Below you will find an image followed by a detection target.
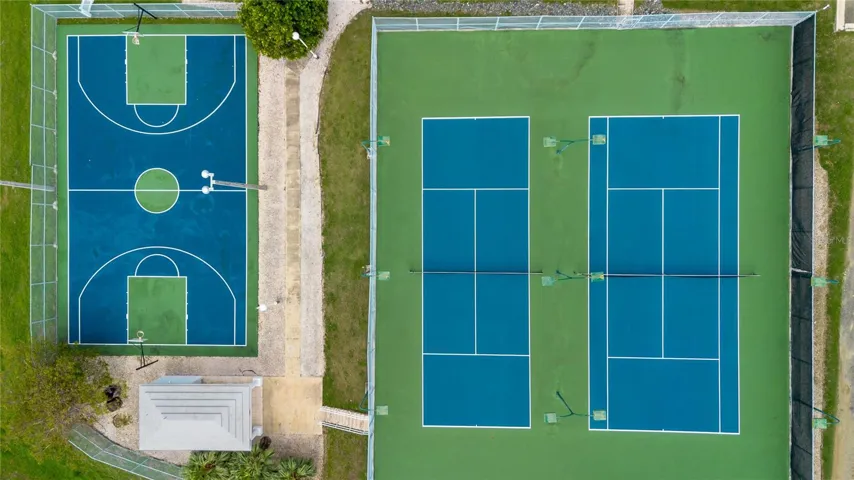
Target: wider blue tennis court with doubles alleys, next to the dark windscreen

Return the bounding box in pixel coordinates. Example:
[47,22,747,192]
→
[589,114,740,435]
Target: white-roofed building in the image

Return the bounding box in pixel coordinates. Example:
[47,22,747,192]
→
[139,375,262,450]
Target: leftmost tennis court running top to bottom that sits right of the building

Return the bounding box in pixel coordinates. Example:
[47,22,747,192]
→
[422,116,531,430]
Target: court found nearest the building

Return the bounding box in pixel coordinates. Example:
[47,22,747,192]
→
[57,23,259,357]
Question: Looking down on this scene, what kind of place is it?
sports ground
